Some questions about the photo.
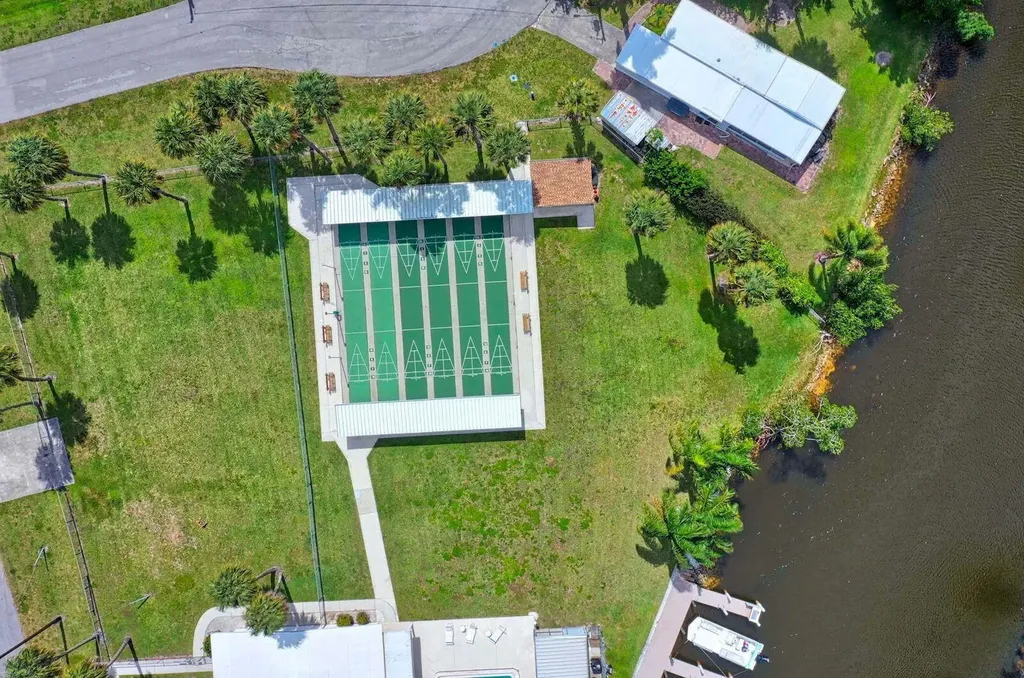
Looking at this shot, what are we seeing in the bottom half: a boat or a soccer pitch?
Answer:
boat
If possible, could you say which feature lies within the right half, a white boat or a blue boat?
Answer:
white boat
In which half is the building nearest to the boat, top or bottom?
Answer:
bottom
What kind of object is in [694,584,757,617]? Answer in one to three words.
pier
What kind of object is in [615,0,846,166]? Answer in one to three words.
house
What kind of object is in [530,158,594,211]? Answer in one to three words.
shed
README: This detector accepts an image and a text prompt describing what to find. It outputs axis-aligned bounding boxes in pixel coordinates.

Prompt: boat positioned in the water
[686,618,764,668]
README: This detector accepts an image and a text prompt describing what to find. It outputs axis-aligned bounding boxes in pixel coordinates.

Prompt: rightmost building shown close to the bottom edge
[534,619,591,678]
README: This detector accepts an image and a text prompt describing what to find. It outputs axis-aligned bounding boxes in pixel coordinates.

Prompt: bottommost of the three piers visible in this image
[665,657,727,678]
